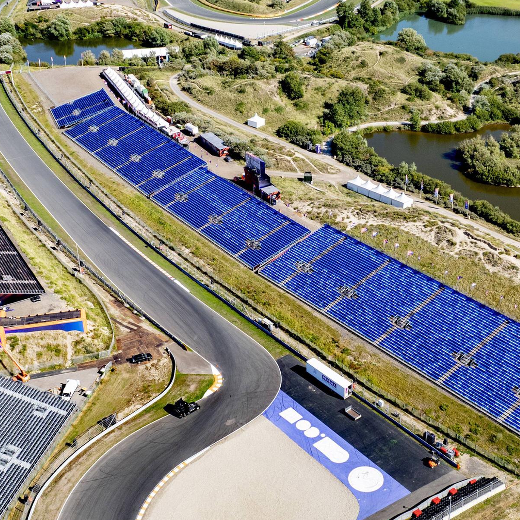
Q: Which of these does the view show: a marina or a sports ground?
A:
sports ground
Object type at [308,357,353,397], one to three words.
trailer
